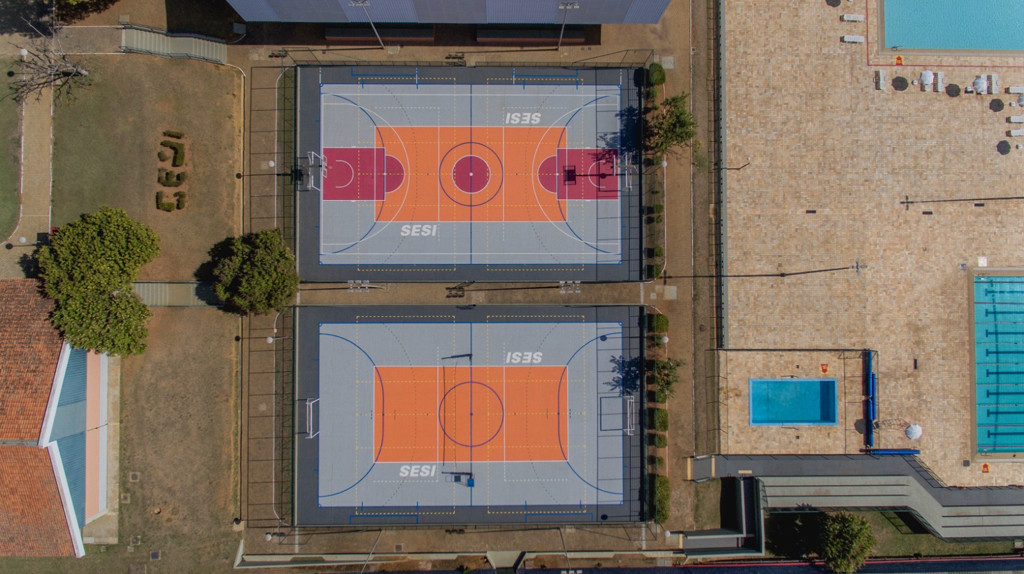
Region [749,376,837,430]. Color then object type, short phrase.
blue swimming pool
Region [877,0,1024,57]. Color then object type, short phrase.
blue swimming pool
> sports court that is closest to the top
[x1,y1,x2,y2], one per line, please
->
[299,66,643,280]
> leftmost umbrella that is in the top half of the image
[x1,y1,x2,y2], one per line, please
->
[915,69,936,85]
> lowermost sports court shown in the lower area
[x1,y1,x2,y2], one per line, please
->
[298,307,643,524]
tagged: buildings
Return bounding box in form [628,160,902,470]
[223,0,671,23]
[0,278,108,558]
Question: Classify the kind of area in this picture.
sports ground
